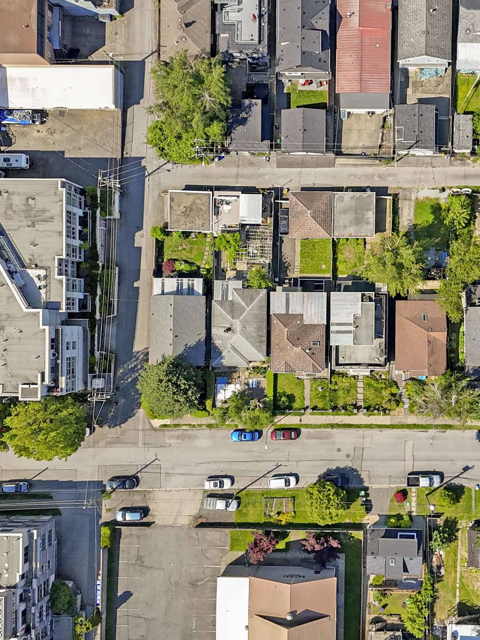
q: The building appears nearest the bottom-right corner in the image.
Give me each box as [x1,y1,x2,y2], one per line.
[445,603,480,640]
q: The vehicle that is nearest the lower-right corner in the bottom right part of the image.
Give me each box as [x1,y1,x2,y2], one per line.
[405,473,443,488]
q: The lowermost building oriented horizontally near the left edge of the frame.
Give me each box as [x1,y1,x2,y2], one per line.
[0,65,123,117]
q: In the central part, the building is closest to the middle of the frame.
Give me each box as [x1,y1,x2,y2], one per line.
[211,281,267,367]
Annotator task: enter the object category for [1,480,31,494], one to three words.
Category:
vehicle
